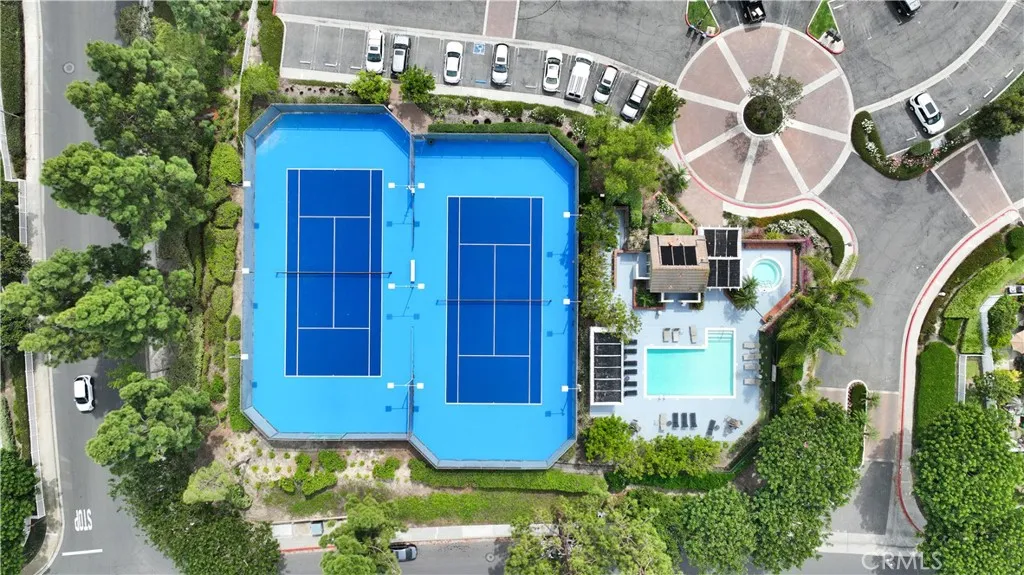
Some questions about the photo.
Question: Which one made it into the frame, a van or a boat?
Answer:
van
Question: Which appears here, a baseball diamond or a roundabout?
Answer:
roundabout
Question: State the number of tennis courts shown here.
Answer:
2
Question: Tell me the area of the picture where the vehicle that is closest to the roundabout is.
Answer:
top right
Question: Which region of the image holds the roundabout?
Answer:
top right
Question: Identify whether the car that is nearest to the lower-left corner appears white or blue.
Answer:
white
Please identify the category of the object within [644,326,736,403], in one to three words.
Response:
swimming pool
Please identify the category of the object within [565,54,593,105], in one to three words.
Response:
van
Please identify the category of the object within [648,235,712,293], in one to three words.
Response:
building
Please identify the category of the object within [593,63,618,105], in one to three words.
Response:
car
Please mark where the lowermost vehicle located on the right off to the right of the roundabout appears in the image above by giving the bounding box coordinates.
[909,91,942,135]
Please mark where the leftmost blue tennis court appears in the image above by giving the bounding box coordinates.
[253,112,415,433]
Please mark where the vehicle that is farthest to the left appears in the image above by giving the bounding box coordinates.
[74,374,97,412]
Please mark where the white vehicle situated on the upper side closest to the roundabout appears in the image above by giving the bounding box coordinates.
[621,78,649,123]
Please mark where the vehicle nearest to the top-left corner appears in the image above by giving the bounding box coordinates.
[364,30,385,73]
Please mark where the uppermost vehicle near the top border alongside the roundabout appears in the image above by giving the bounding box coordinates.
[742,0,767,27]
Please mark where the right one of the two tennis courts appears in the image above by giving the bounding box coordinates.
[413,140,575,461]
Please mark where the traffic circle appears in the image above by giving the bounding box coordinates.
[673,23,853,204]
